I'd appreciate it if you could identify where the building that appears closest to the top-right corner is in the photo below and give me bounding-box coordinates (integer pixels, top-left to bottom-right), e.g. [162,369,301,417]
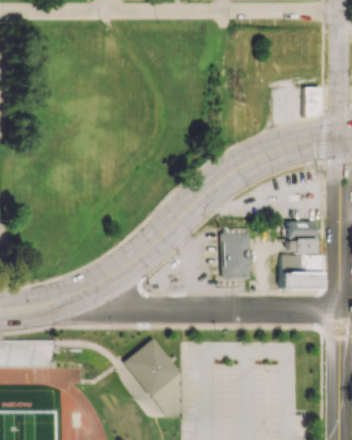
[302,86,324,118]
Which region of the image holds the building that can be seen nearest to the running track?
bottom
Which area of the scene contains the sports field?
bottom left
